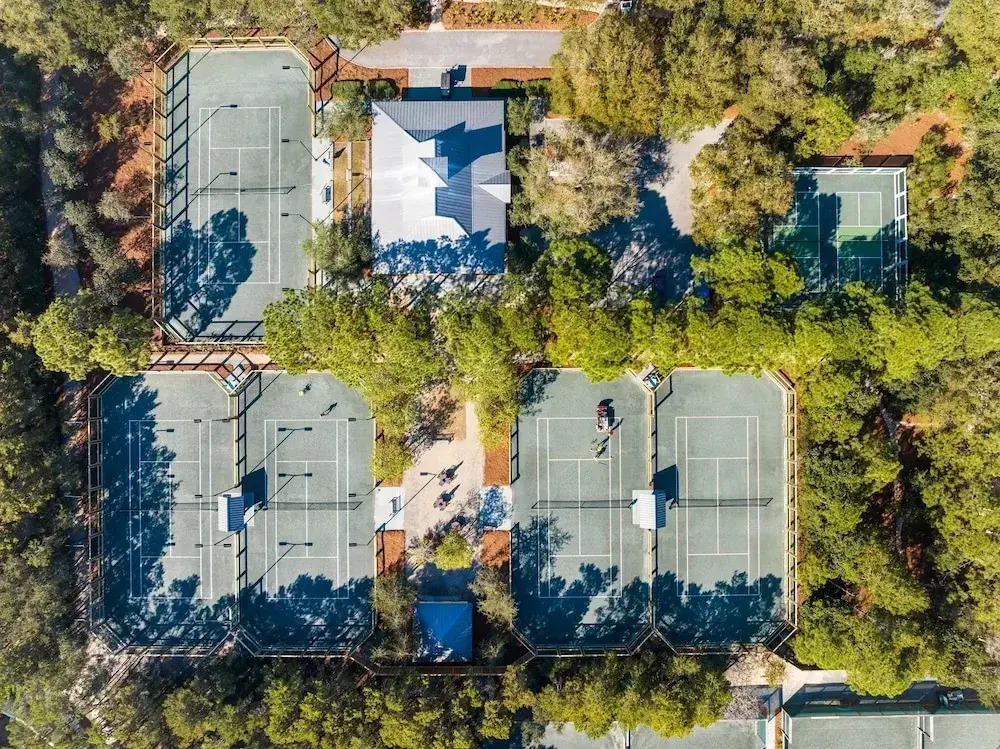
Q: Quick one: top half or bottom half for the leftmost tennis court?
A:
bottom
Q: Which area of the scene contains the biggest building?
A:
top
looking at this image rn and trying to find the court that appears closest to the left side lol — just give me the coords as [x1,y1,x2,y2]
[104,376,238,645]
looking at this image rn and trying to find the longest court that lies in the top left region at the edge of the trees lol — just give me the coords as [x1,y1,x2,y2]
[167,50,313,340]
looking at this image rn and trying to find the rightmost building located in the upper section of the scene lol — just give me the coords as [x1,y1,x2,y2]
[371,100,512,274]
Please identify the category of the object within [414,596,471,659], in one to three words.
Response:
building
